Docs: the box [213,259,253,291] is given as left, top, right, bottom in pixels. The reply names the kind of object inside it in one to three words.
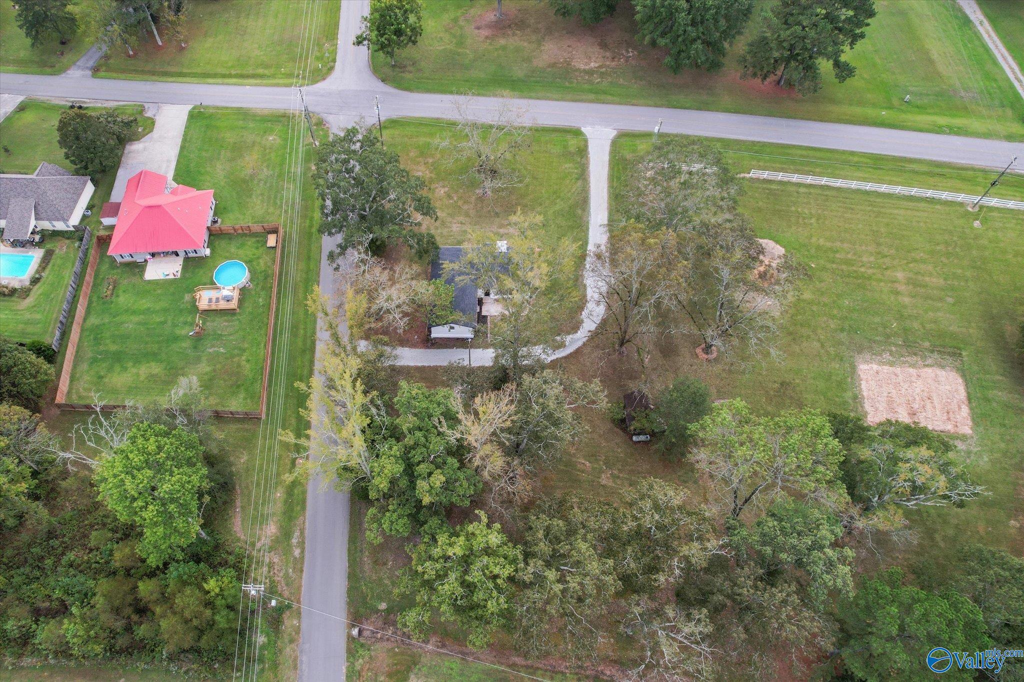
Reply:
swimming pool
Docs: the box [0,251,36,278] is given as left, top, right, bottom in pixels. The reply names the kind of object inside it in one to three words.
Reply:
swimming pool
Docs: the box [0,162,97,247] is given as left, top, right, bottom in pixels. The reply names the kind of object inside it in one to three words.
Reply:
house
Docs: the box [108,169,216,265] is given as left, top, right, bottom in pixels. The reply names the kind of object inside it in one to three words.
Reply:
house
